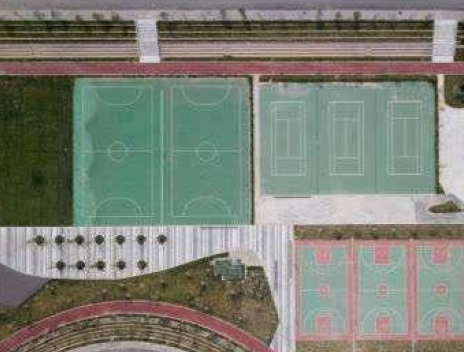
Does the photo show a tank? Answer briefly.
No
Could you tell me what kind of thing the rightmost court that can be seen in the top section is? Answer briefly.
tennis court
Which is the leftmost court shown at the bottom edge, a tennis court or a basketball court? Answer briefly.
basketball court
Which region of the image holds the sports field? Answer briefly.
left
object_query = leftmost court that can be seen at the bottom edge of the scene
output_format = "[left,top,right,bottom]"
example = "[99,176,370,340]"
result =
[296,239,353,340]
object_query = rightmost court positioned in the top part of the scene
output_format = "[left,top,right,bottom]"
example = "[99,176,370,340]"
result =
[377,81,436,195]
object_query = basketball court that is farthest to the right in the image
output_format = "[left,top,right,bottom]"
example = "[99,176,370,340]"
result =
[412,239,464,340]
